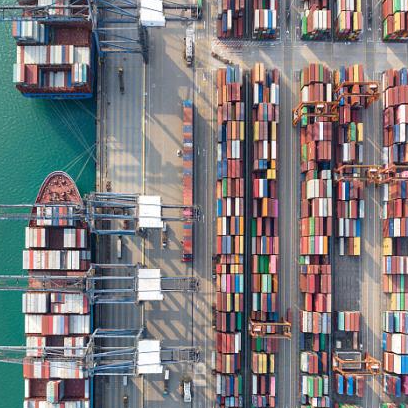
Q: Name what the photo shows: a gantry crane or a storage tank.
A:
gantry crane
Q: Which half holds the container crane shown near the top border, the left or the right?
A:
left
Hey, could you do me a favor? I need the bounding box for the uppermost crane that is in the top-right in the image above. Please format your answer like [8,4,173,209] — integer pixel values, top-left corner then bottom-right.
[329,83,381,111]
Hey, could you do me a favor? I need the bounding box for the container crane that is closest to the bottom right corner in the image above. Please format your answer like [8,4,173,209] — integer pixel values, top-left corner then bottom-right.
[327,351,379,377]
